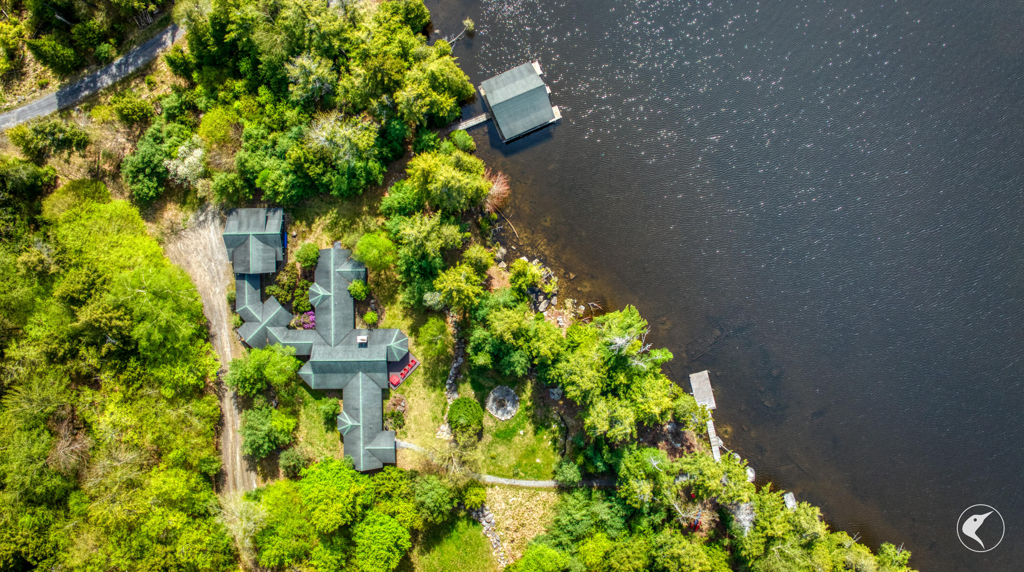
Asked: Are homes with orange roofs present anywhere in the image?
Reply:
No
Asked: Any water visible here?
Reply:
Yes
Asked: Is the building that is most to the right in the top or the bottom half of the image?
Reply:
top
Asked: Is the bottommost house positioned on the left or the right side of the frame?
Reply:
left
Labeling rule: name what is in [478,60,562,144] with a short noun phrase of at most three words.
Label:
building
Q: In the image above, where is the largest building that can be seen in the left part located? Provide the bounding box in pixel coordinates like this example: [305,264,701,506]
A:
[236,248,421,471]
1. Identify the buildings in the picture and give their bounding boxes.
[236,248,421,471]
[478,60,562,144]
